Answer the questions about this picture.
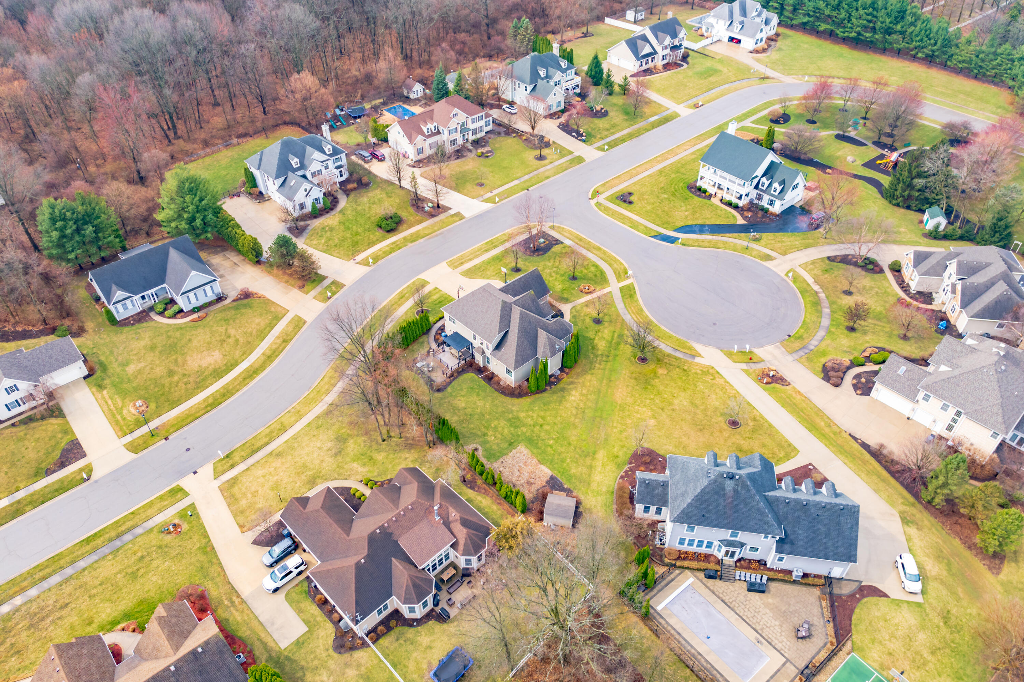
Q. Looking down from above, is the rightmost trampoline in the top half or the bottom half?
bottom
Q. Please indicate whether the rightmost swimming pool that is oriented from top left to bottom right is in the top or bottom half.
bottom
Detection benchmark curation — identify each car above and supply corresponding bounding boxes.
[731,37,740,44]
[354,150,374,162]
[895,553,922,594]
[501,104,519,114]
[260,535,301,571]
[370,150,386,161]
[263,555,308,594]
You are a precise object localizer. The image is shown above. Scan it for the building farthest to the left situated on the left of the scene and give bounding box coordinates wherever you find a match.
[0,332,89,421]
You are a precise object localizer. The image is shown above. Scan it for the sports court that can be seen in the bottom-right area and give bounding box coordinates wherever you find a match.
[828,654,888,682]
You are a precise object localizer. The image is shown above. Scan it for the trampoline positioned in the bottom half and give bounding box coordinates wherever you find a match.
[430,647,473,682]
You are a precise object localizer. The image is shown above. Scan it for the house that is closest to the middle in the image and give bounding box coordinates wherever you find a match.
[431,267,581,382]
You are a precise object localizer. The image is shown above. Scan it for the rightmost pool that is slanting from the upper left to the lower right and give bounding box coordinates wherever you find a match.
[657,578,770,680]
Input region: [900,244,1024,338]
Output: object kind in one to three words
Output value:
house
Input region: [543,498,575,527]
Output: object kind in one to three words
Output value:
shed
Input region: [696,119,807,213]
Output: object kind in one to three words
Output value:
house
